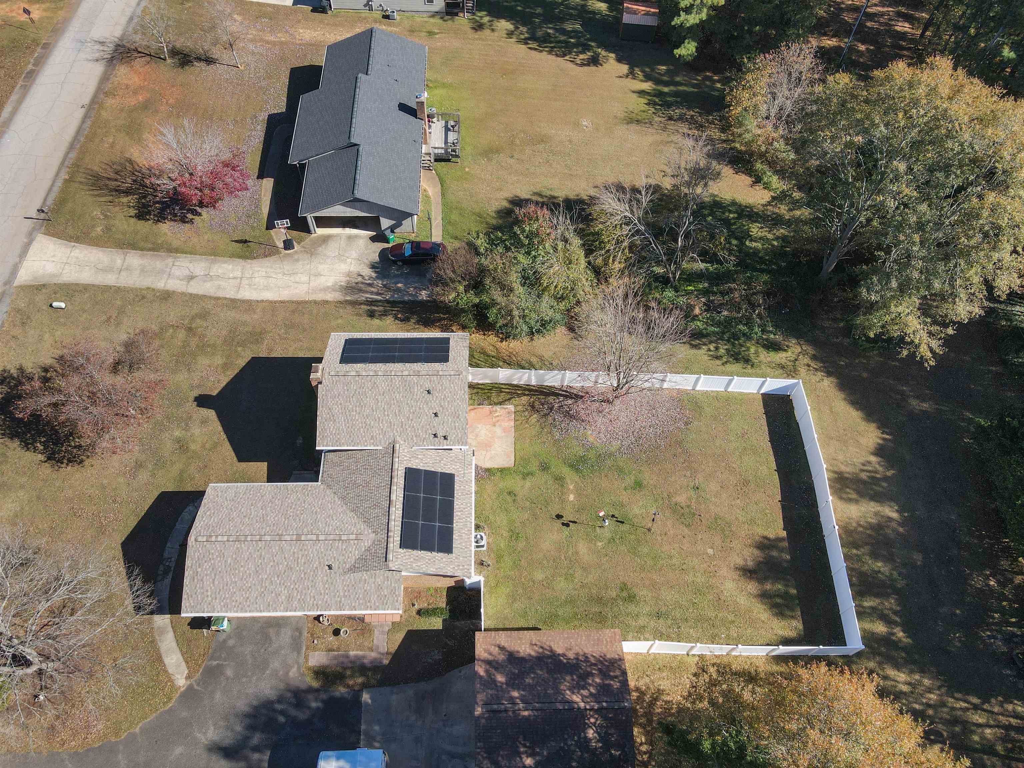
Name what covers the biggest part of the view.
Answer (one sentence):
What you mostly see from above here is grass.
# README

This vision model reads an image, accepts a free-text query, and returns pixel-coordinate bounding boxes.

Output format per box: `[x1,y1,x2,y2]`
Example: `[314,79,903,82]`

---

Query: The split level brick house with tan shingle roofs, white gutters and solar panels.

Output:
[181,331,477,622]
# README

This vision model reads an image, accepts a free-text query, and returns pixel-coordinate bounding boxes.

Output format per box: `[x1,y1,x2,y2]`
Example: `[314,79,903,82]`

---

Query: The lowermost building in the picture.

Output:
[475,629,634,768]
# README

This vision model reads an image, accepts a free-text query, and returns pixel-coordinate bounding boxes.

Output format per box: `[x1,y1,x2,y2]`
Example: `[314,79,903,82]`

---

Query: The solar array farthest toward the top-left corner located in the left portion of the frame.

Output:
[339,336,451,362]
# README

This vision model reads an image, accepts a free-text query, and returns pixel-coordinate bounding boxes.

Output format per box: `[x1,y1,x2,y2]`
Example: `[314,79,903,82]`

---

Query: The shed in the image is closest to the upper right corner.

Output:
[619,2,658,45]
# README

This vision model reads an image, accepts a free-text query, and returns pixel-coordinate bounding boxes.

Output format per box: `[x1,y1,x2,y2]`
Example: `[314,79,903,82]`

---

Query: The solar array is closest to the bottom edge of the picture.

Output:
[401,467,455,553]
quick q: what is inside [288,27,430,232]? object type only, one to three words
house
